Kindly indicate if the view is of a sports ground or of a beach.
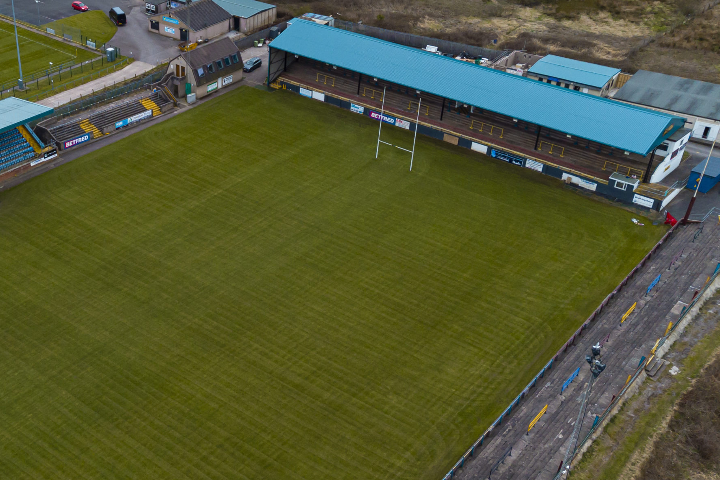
sports ground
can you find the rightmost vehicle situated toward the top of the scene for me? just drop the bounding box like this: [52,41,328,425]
[244,56,266,71]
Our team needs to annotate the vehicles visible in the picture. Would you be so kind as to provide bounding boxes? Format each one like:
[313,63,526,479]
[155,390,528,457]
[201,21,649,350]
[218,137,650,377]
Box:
[110,6,124,23]
[69,0,88,11]
[244,56,266,71]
